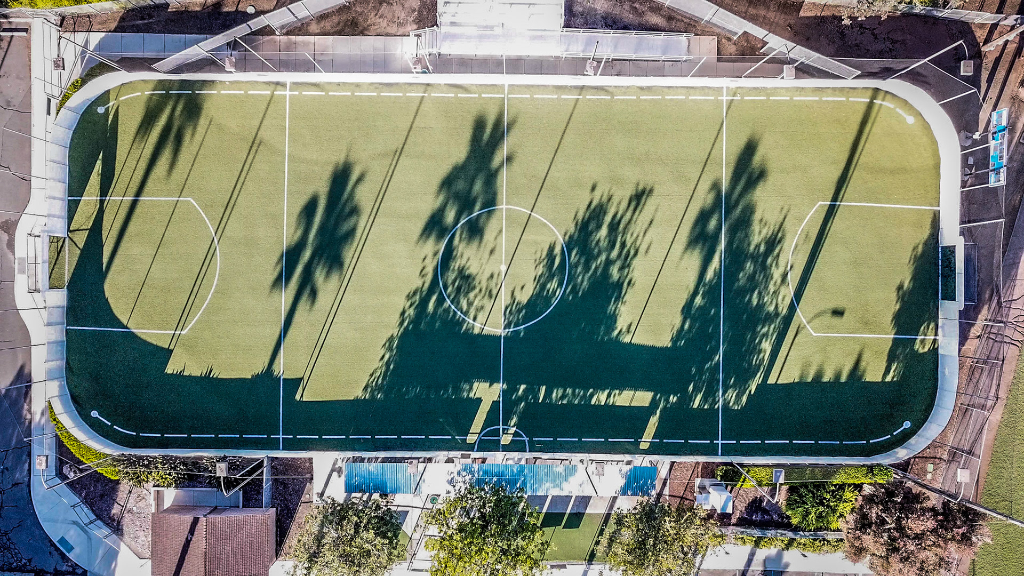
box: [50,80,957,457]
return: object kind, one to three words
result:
sports field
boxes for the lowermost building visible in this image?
[151,504,278,576]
